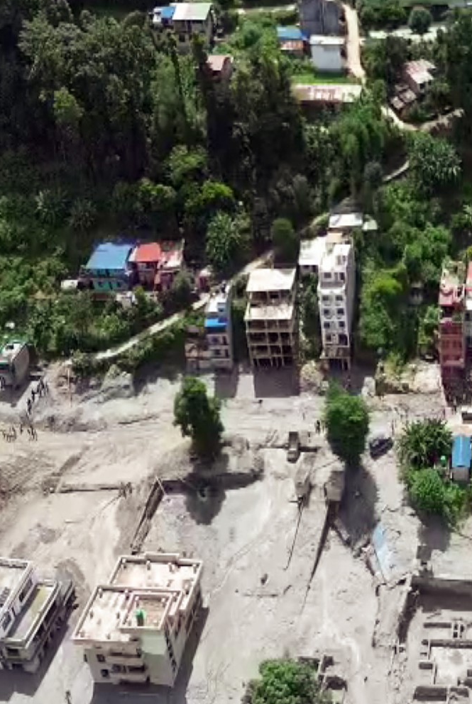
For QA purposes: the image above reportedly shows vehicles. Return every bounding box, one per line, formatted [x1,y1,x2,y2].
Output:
[365,436,394,455]
[454,405,472,418]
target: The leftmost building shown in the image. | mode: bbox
[0,332,37,384]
